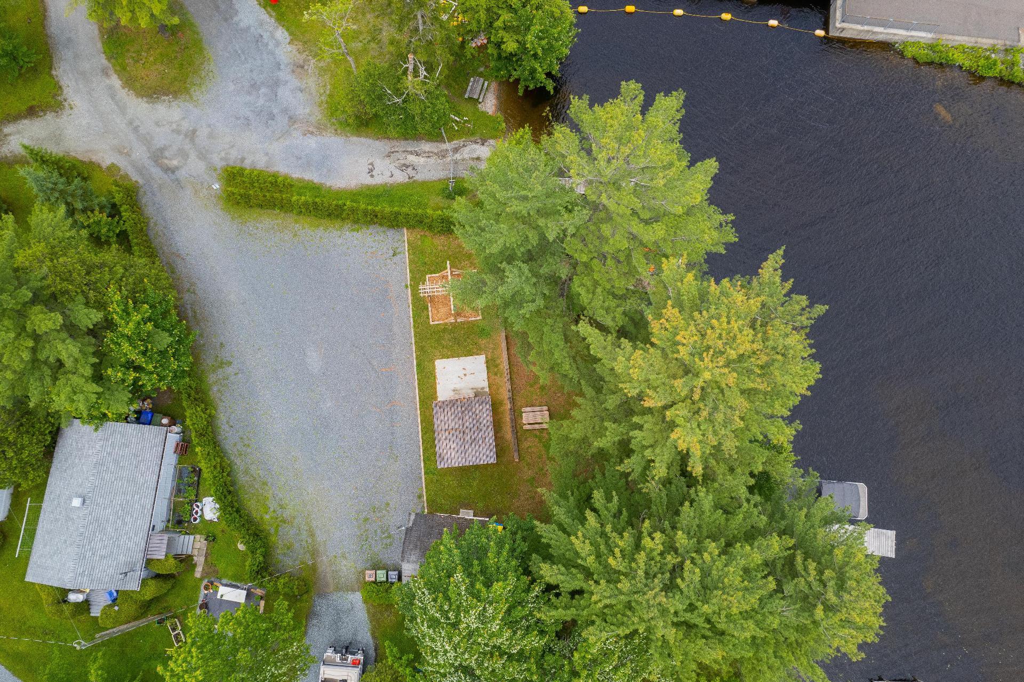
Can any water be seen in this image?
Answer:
Yes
